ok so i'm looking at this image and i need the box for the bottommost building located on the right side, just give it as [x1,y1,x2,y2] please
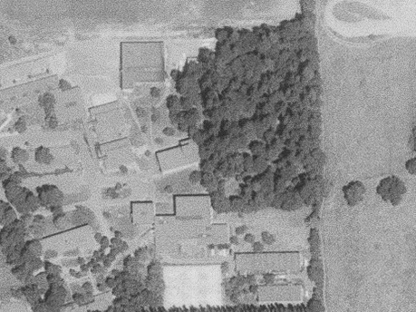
[258,285,303,302]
